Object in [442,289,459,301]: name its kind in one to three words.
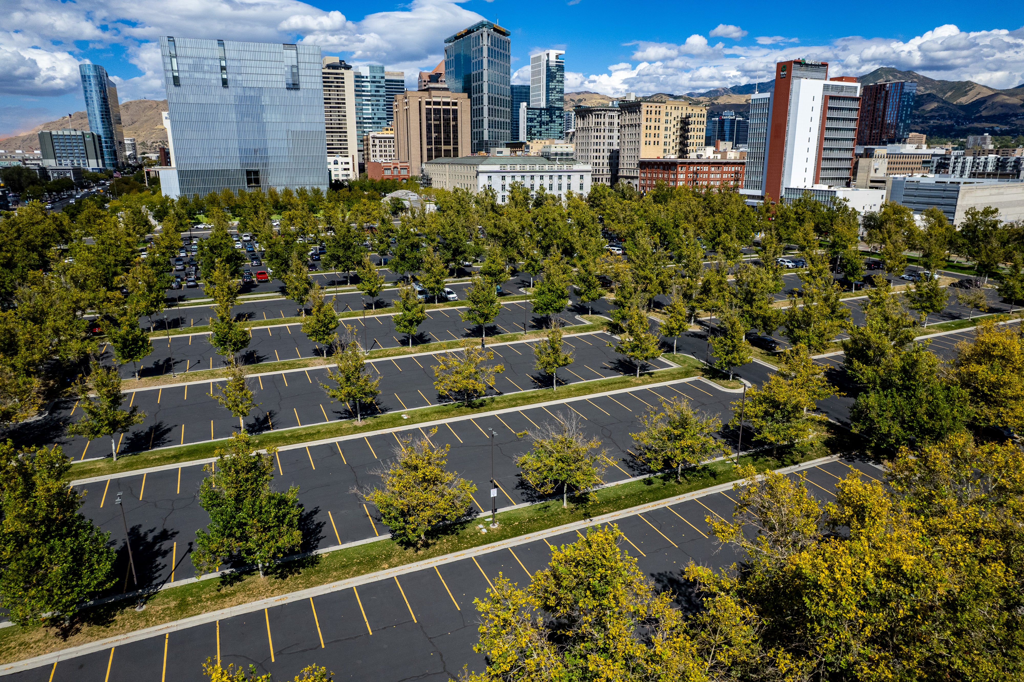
vehicle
